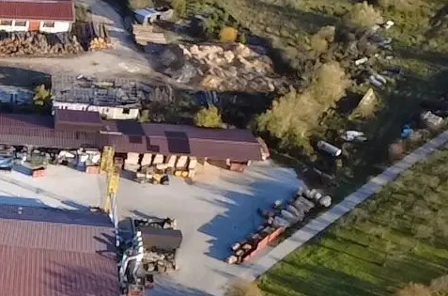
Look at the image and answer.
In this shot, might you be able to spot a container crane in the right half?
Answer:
No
